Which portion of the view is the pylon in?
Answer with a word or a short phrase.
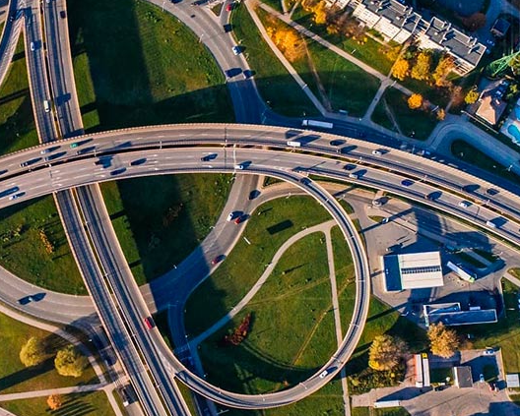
top right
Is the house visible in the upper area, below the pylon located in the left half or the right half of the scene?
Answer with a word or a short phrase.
right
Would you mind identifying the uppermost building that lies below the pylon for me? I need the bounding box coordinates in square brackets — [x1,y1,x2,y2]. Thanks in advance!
[469,92,499,125]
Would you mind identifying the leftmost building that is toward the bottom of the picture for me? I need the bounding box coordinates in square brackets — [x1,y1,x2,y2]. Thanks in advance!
[380,251,444,291]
